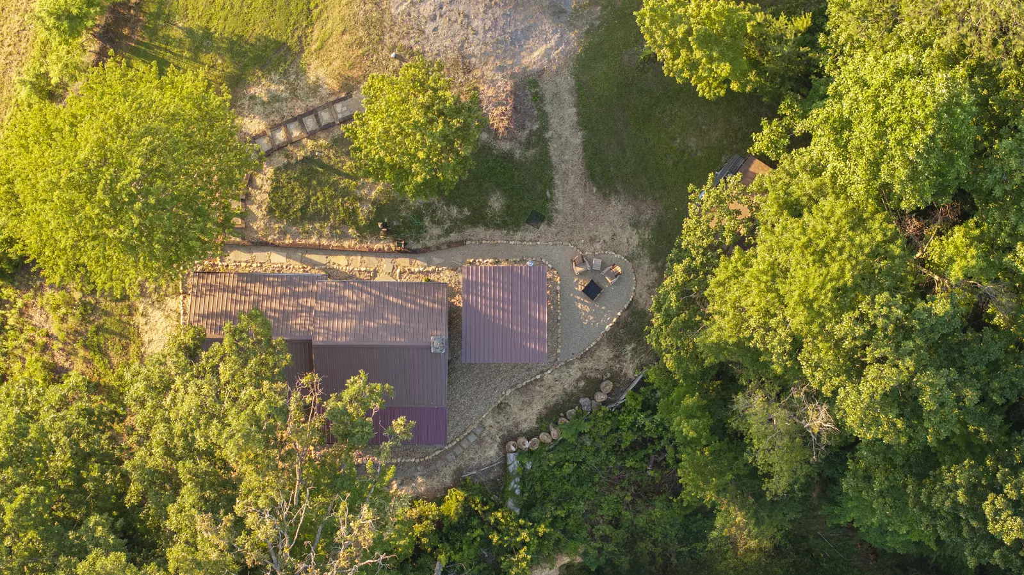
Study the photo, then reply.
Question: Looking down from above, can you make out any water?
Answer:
No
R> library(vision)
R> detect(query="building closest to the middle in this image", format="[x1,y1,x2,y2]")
[462,266,547,363]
